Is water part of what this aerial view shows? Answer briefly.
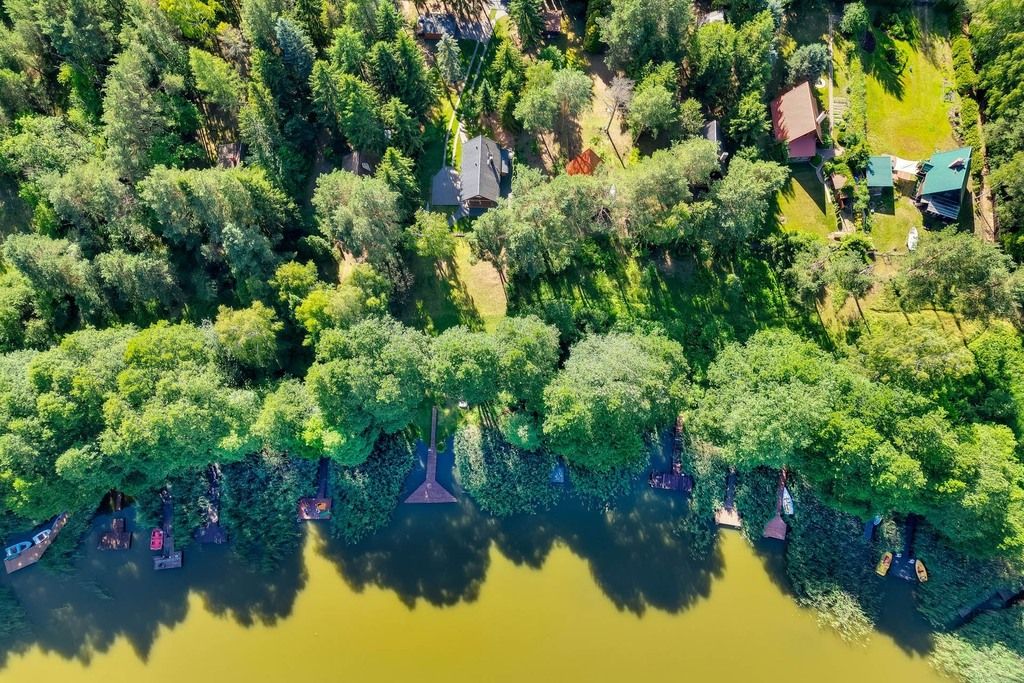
Yes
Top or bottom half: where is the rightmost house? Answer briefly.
top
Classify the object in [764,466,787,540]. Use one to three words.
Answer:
pier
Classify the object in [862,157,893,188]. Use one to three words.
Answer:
shed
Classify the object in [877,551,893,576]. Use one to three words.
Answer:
boat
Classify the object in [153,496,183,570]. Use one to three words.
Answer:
pier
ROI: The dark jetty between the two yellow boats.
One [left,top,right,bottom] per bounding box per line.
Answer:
[888,515,916,582]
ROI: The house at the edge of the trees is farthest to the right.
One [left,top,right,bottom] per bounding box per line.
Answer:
[913,147,972,219]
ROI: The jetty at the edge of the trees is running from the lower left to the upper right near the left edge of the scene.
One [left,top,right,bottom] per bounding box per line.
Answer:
[4,513,69,573]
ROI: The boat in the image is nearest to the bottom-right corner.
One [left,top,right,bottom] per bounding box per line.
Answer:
[916,559,928,583]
